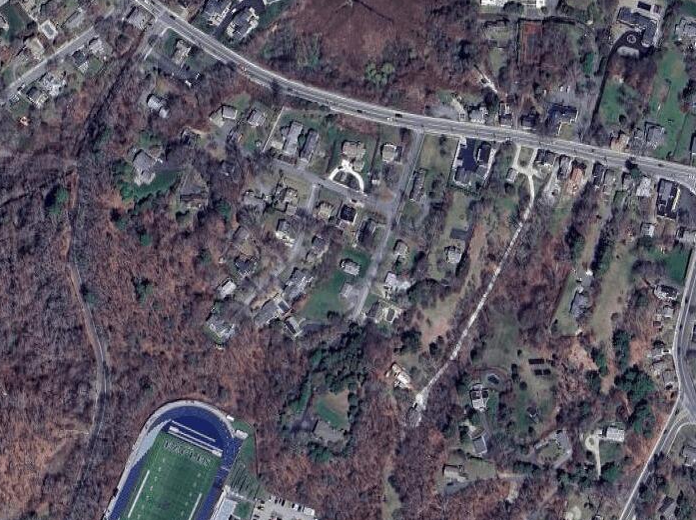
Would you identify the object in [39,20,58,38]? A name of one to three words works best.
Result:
swimming pool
